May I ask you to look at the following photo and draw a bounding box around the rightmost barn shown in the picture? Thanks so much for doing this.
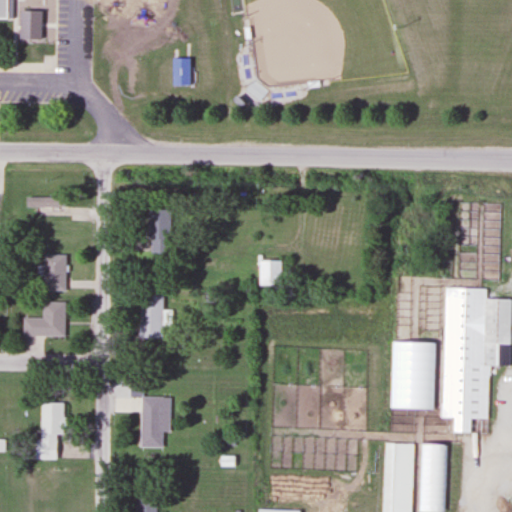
[441,288,512,434]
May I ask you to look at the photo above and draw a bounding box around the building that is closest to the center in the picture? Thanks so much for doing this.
[258,254,282,287]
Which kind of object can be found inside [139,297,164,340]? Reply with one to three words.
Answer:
house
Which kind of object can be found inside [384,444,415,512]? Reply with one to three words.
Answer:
shed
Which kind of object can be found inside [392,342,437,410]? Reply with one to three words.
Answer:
greenhouse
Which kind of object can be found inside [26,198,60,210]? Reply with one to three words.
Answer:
house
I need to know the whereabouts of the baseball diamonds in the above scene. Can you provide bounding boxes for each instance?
[249,0,408,86]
